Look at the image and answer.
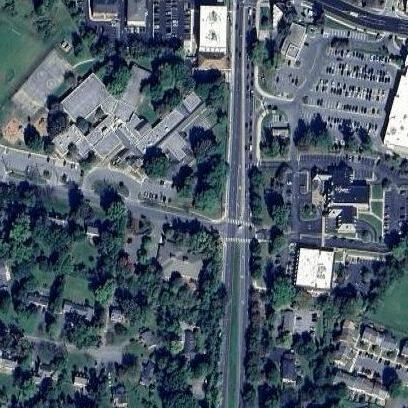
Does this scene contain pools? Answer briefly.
No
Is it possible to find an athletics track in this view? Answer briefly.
No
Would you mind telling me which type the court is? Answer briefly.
basketball court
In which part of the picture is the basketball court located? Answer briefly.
top left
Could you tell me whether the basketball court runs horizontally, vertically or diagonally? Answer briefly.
diagonally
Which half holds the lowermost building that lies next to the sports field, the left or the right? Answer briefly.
left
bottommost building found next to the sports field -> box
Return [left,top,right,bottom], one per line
[54,74,213,172]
